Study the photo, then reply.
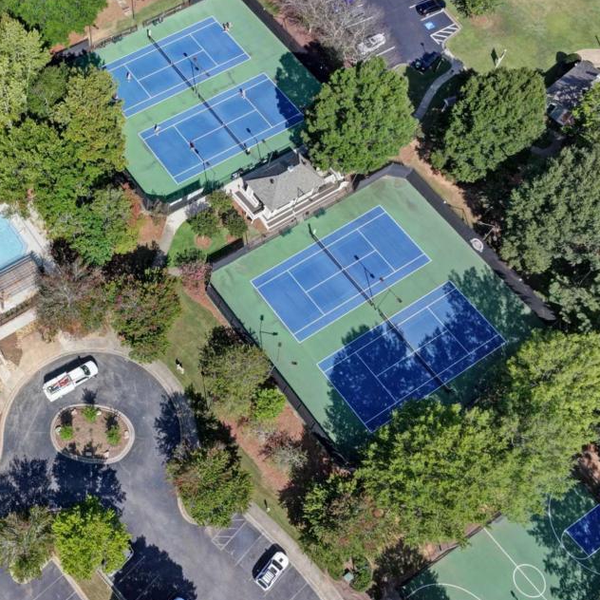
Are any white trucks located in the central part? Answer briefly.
No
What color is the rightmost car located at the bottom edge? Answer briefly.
white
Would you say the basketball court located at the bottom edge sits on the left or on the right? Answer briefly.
right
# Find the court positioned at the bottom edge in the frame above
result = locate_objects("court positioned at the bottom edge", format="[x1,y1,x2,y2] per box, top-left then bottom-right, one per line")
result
[382,454,600,600]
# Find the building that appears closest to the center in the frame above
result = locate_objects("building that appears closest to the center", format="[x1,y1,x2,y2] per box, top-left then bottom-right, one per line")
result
[205,150,345,239]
